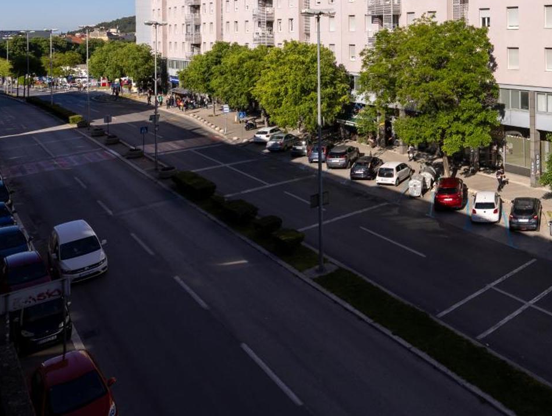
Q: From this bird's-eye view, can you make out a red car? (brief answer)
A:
Yes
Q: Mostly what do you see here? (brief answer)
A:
paved ground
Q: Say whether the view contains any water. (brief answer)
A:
No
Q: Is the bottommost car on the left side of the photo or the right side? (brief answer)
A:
left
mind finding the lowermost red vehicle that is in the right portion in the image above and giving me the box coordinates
[434,174,466,209]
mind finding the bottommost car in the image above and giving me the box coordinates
[22,348,132,416]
